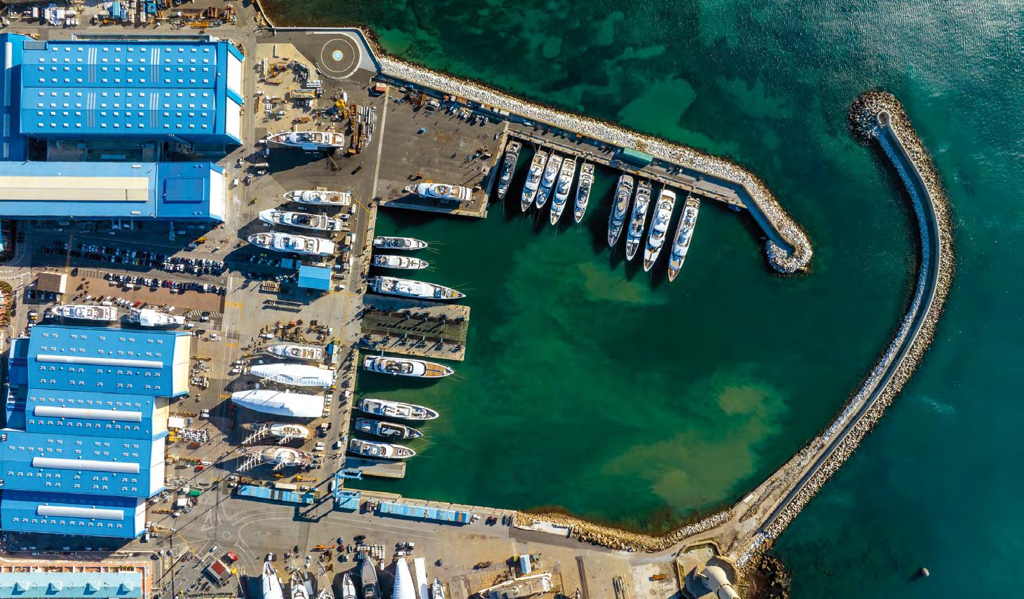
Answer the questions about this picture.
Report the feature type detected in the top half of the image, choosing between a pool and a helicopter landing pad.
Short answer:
helicopter landing pad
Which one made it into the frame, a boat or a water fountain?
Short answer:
boat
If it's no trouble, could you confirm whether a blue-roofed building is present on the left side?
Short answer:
Yes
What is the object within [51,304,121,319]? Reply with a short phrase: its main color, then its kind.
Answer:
white boat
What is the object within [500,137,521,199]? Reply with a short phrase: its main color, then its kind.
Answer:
gray boat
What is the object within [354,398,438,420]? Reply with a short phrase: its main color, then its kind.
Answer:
white boat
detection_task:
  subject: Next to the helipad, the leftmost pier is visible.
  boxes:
[373,76,510,218]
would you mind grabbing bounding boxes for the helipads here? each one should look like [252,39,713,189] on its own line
[314,31,363,80]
